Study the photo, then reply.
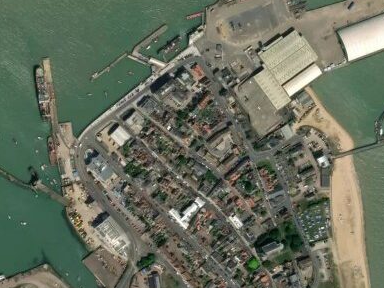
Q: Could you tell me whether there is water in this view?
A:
Yes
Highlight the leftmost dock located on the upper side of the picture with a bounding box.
[43,57,59,130]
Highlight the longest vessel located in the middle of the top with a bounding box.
[158,37,182,55]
